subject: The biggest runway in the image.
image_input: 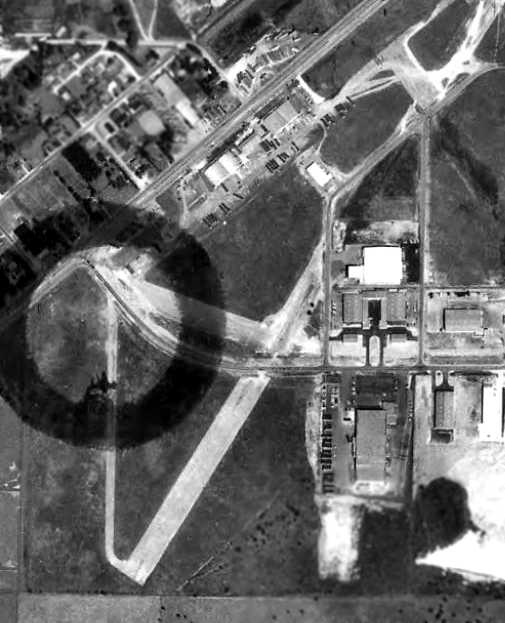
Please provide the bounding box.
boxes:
[106,378,270,584]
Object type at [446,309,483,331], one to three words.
building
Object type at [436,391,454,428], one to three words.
shed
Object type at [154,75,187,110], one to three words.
building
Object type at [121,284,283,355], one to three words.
runway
